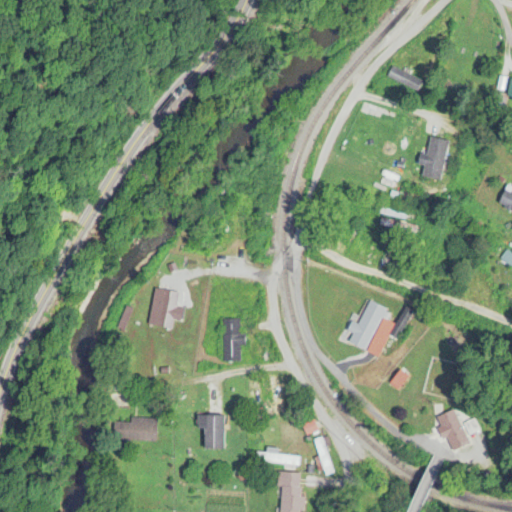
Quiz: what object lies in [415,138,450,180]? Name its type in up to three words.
house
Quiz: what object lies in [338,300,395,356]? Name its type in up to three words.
building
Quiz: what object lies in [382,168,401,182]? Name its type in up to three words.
vehicle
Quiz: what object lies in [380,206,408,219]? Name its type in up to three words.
vehicle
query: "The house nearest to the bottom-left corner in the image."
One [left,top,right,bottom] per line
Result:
[114,418,158,442]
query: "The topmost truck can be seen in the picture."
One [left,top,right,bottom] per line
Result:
[158,88,186,116]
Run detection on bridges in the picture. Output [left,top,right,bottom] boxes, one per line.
[407,454,445,512]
